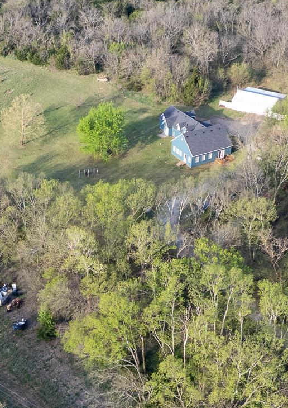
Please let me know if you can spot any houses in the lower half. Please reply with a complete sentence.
No, in the lower half there is no house.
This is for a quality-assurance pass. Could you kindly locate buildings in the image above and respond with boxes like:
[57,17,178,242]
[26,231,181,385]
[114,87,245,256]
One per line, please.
[230,82,281,116]
[154,101,236,168]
